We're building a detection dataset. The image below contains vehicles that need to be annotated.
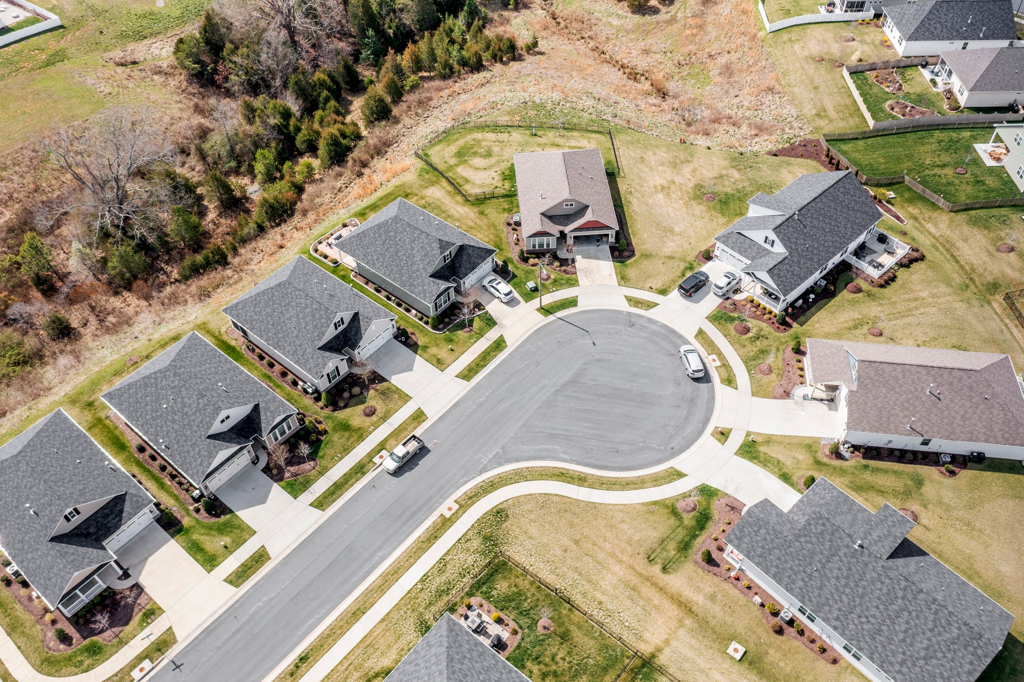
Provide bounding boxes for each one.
[481,276,515,304]
[678,345,706,380]
[678,271,711,298]
[710,270,743,297]
[379,434,425,476]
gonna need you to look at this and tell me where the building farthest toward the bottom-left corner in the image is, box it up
[0,407,162,619]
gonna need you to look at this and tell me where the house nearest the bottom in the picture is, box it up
[382,613,530,682]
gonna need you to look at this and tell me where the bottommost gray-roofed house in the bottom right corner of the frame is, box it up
[722,476,1018,682]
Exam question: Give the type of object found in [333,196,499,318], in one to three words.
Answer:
house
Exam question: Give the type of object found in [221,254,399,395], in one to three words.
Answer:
house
